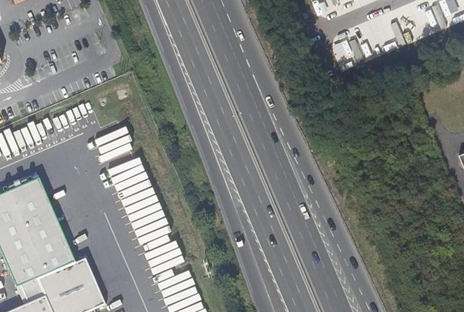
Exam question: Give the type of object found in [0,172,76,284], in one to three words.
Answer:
building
